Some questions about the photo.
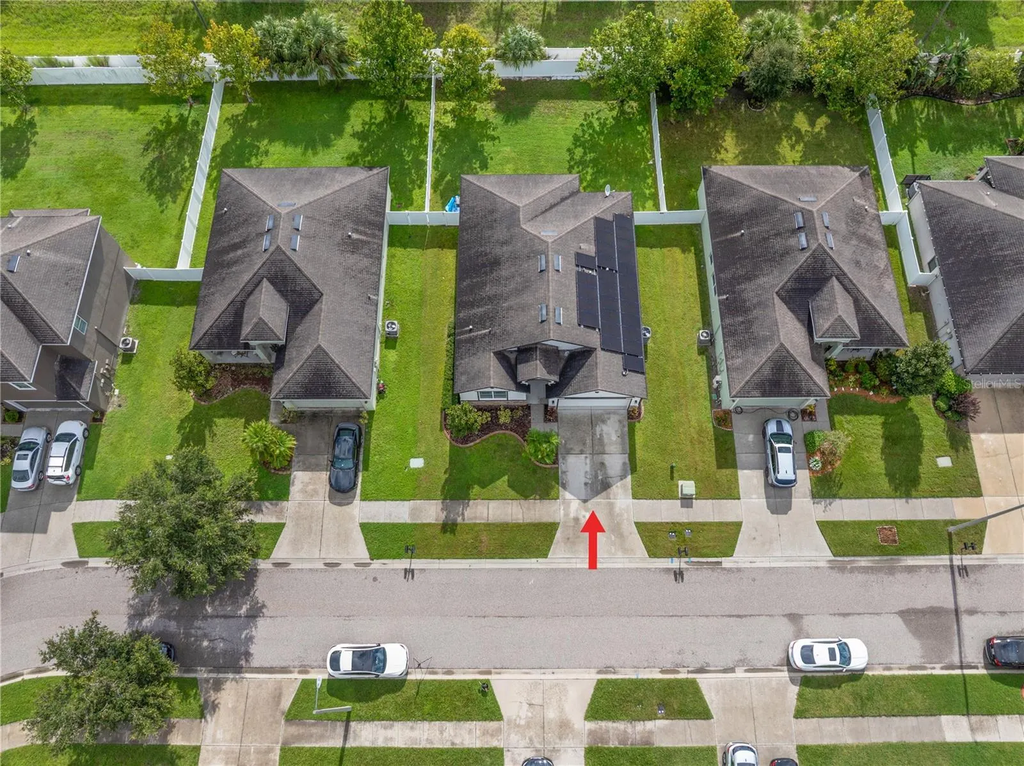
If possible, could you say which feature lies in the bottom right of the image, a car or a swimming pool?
car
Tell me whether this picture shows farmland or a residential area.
residential area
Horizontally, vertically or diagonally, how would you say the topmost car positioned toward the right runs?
vertically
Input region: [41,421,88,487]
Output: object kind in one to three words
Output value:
car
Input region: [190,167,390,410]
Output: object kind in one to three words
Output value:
house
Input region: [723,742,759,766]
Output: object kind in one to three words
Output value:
car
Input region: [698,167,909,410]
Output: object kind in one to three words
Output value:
house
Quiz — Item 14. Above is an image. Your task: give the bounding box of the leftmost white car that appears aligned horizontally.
[326,641,409,681]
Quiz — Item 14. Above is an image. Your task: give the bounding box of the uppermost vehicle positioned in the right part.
[763,418,799,487]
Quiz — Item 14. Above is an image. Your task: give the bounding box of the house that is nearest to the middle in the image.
[454,174,647,408]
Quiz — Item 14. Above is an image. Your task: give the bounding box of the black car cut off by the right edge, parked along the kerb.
[980,636,1024,669]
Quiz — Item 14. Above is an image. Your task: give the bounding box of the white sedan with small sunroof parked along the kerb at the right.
[785,637,869,674]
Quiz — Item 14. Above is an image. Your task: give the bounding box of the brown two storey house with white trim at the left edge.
[0,208,137,412]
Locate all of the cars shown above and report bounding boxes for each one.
[326,641,409,681]
[723,742,759,766]
[980,636,1024,669]
[523,757,553,766]
[328,421,363,493]
[785,637,869,674]
[767,757,801,766]
[41,421,88,487]
[763,418,799,487]
[9,427,53,491]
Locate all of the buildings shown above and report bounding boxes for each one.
[0,208,137,412]
[454,174,647,408]
[903,157,1024,385]
[698,167,909,410]
[190,167,390,410]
